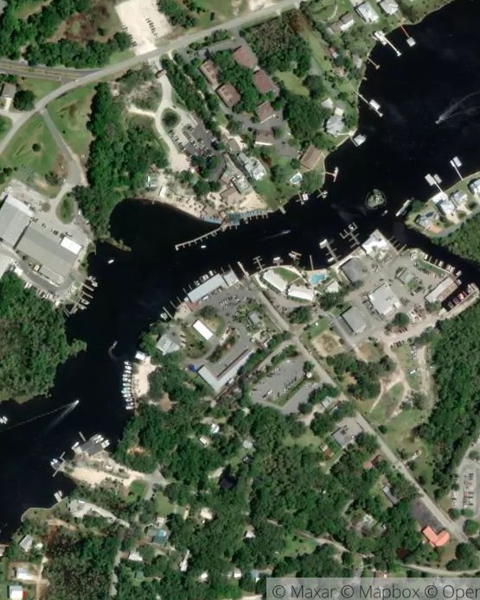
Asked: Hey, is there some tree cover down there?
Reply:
Yes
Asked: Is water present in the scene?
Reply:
Yes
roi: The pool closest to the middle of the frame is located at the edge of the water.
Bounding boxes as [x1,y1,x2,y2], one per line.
[310,271,326,284]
